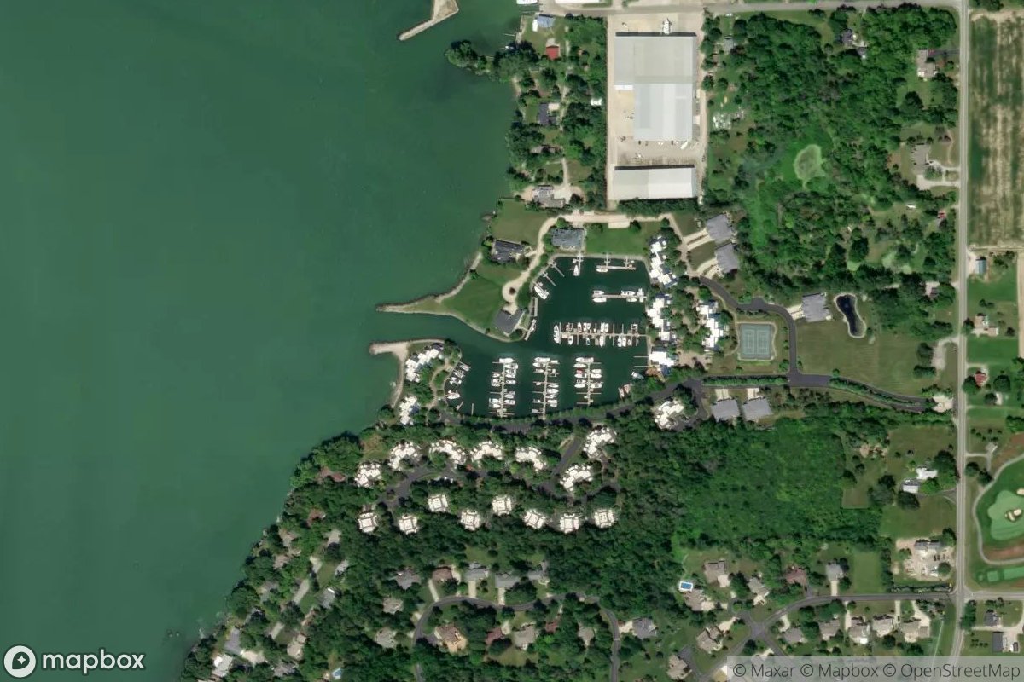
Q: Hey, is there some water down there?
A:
Yes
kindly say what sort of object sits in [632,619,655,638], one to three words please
house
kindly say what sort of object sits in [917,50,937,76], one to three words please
house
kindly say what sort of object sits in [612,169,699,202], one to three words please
building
